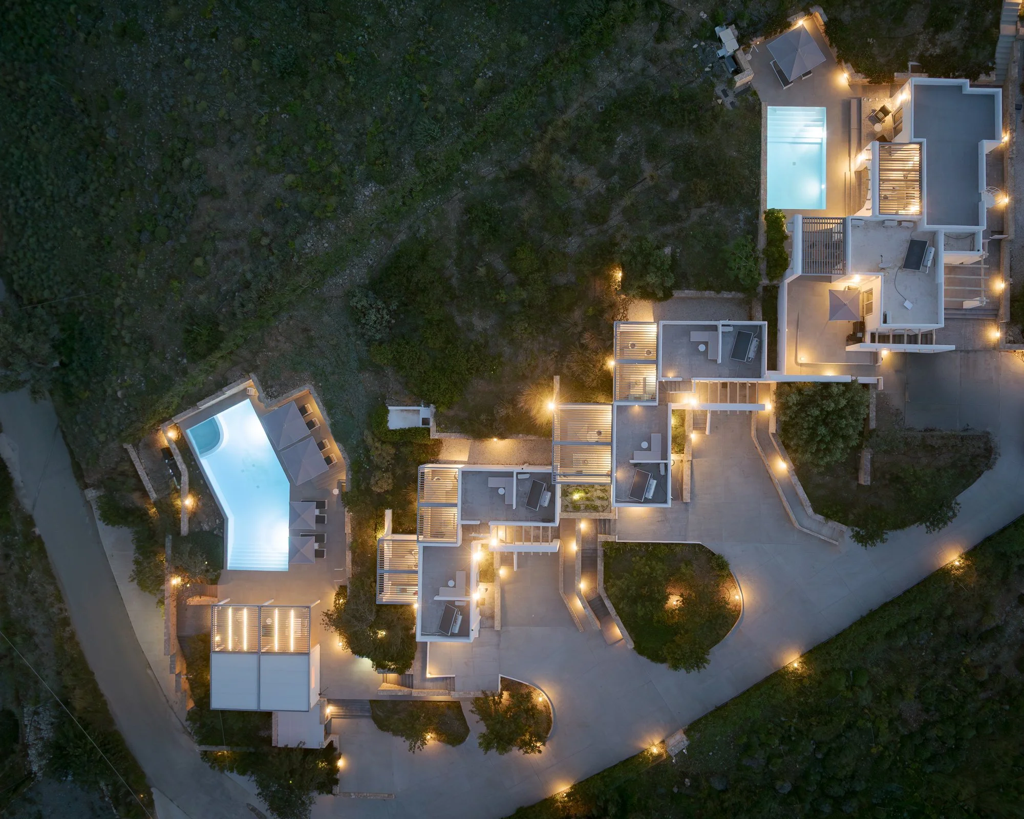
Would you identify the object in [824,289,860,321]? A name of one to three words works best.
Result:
umbrella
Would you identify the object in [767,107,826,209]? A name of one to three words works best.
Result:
swimming pool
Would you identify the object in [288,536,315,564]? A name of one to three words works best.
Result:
umbrella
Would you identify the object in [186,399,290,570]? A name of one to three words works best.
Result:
swimming pool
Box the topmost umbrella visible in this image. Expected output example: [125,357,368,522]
[766,24,826,82]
